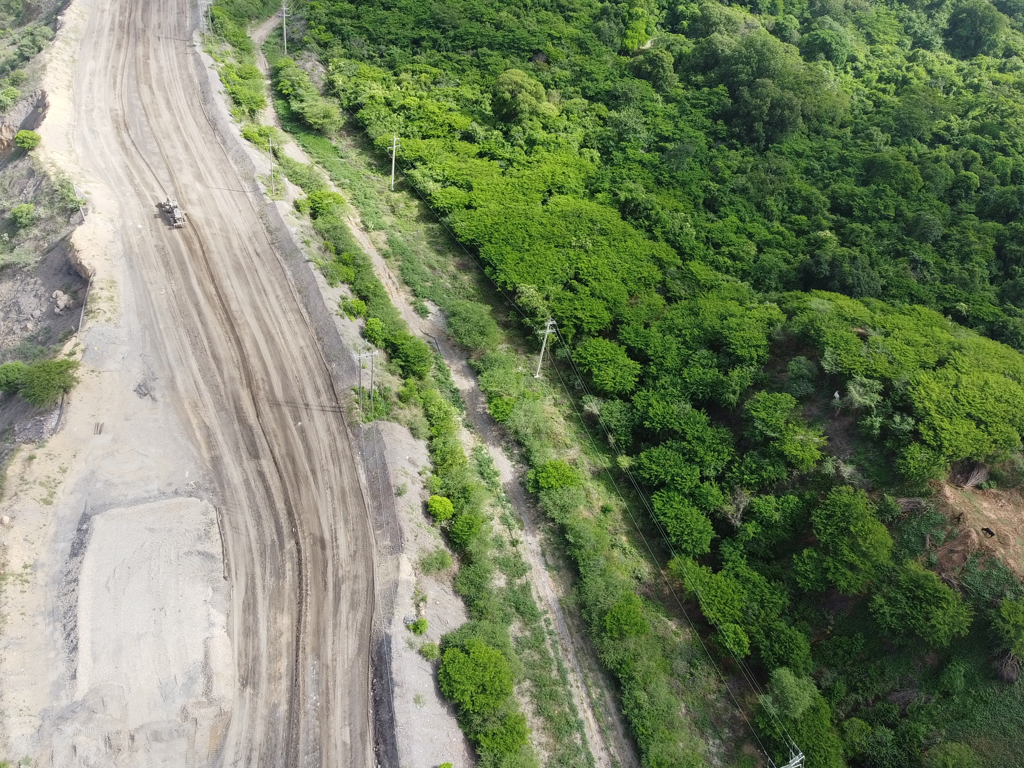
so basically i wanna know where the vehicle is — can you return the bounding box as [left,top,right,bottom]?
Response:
[158,192,189,228]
